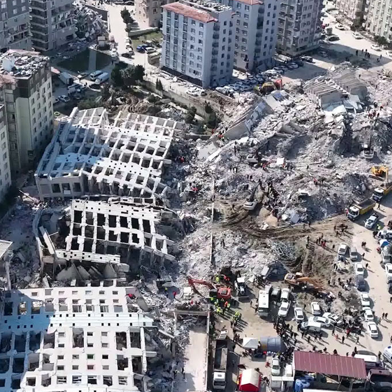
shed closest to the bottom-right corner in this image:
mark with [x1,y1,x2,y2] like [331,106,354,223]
[293,350,367,392]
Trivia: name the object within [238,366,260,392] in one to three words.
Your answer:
tent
